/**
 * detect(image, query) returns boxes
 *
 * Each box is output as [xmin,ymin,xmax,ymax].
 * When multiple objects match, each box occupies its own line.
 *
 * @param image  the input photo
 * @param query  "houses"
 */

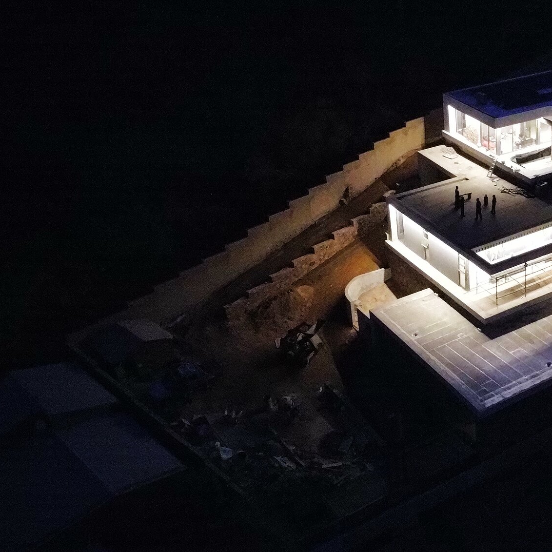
[370,70,552,453]
[11,410,191,552]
